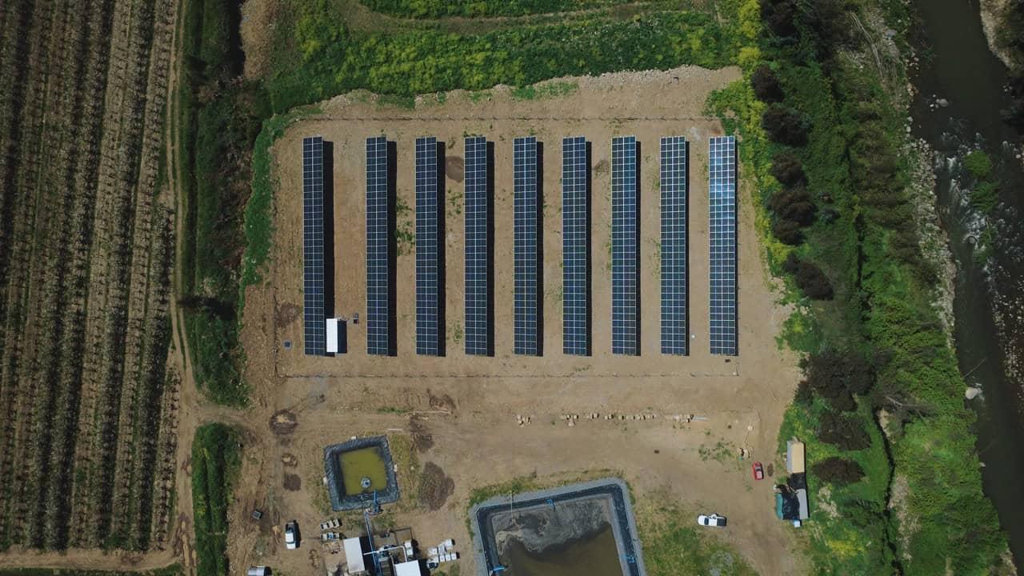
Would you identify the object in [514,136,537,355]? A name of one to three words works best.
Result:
solar array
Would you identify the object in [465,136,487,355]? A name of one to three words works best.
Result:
solar array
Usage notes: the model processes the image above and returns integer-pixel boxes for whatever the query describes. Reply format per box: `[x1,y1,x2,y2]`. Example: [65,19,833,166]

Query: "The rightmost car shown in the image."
[751,461,763,481]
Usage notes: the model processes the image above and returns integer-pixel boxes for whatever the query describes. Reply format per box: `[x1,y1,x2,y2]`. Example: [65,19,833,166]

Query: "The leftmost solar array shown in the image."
[303,136,323,355]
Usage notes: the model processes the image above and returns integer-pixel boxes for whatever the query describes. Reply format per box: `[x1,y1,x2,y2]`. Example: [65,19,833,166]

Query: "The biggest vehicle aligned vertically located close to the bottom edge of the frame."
[285,520,298,550]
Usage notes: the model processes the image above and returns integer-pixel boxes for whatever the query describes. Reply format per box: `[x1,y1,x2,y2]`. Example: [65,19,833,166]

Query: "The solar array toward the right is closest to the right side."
[709,136,736,355]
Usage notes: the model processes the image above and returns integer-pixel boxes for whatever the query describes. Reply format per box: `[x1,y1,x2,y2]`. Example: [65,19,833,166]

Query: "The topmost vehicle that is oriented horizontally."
[697,511,727,527]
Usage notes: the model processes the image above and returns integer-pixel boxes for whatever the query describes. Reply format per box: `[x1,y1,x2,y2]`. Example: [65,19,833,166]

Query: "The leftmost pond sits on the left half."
[324,435,400,510]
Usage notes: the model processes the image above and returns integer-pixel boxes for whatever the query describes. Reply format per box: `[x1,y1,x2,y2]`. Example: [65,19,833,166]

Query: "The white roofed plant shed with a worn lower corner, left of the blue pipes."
[343,537,365,573]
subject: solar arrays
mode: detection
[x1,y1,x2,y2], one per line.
[303,136,323,355]
[709,136,736,355]
[660,136,686,355]
[416,136,437,355]
[563,136,587,355]
[366,136,387,355]
[465,136,487,355]
[612,136,636,355]
[514,136,537,355]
